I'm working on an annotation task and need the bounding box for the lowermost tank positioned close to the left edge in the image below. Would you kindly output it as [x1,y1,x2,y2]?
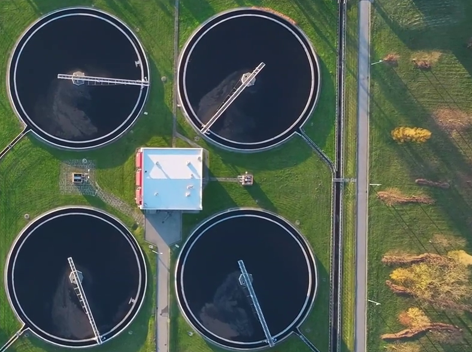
[2,204,149,351]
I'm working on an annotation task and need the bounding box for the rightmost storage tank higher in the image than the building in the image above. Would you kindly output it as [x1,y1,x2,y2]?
[173,6,323,154]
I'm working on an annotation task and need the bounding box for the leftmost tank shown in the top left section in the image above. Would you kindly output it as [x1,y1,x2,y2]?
[4,6,151,152]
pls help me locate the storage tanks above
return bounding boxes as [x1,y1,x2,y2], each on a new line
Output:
[4,6,151,152]
[173,6,323,154]
[172,206,319,352]
[2,204,149,351]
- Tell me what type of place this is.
industrial area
